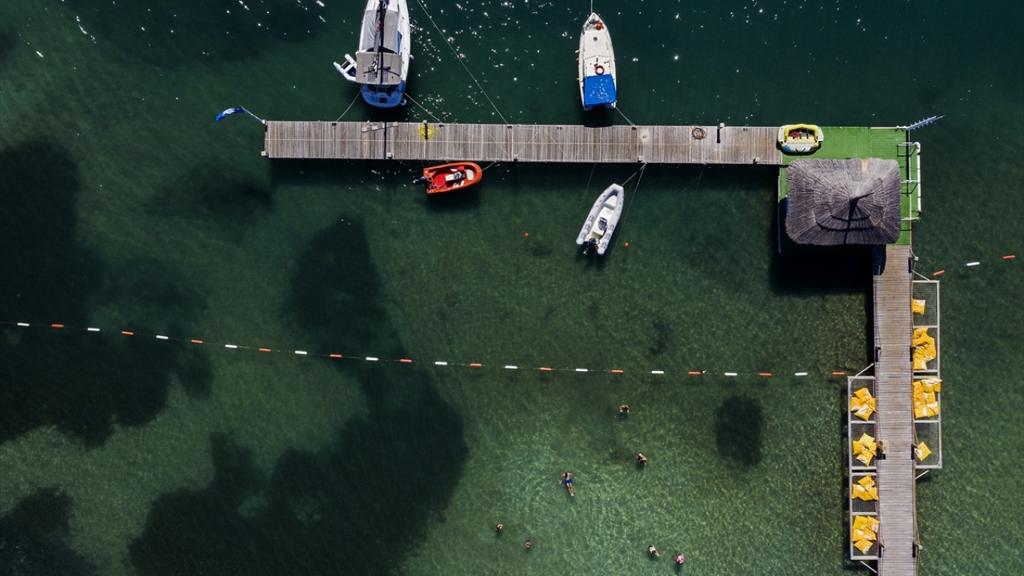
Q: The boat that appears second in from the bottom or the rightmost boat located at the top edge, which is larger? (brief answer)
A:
the rightmost boat located at the top edge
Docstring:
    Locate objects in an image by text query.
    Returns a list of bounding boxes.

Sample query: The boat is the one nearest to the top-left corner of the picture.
[331,53,358,85]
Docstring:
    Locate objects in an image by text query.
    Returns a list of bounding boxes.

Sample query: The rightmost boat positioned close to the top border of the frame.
[576,9,617,120]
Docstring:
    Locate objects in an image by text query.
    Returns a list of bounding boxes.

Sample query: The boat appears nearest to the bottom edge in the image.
[575,186,621,261]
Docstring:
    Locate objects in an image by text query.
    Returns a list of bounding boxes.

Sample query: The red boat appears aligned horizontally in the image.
[416,163,483,194]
